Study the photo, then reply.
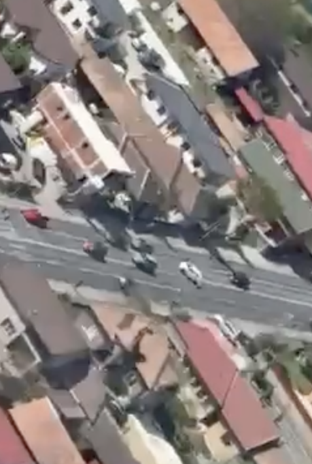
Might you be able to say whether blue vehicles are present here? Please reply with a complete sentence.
No, this view has no blue vehicle in it.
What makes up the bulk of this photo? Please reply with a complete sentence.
The bulk of the photo consists of buildings.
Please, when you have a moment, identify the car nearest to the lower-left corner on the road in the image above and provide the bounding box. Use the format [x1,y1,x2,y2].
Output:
[81,243,103,258]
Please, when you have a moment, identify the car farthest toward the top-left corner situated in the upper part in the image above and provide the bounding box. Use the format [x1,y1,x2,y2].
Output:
[0,155,18,170]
